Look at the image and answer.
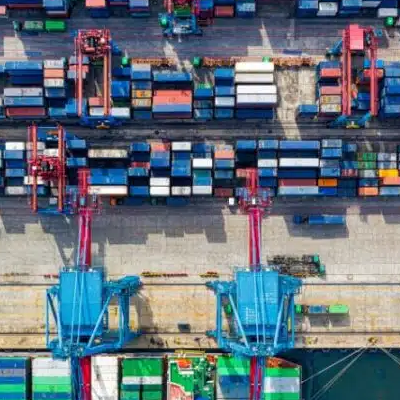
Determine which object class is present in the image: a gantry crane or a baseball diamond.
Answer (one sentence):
Of the two, only a gantry crane appears.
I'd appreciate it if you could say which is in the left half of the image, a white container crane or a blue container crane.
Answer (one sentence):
It is a blue container crane that can be seen in the left half of the image.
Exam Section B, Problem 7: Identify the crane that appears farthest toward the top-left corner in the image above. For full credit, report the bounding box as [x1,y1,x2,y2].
[76,28,122,129]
